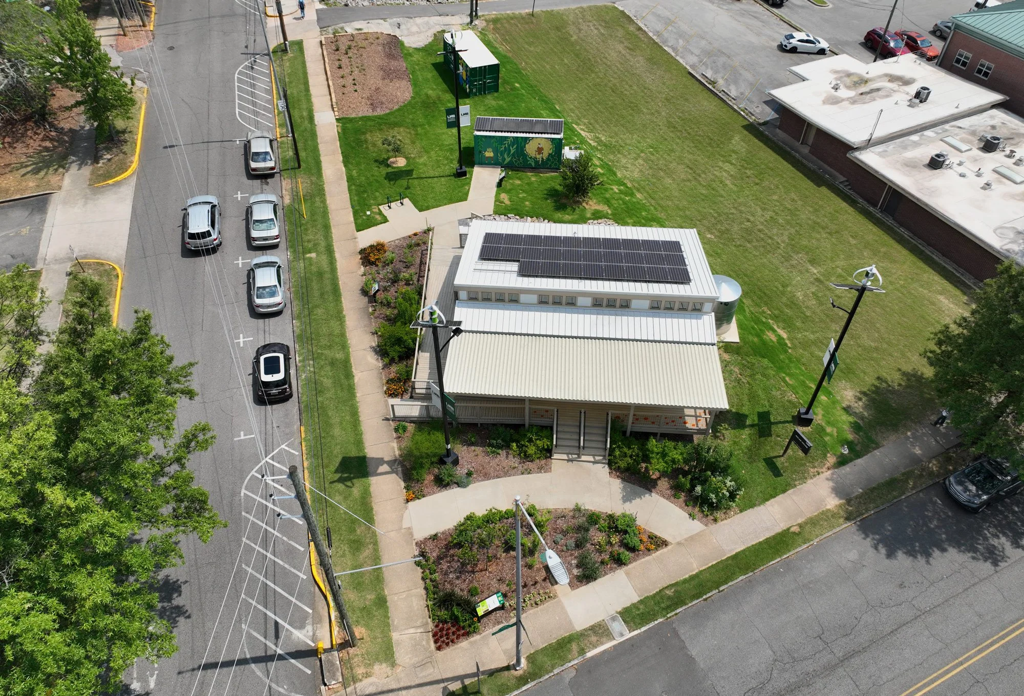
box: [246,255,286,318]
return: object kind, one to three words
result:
car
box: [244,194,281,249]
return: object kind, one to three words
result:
car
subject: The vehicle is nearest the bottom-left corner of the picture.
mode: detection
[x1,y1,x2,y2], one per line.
[250,344,293,407]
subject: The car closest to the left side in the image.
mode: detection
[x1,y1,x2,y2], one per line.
[185,200,223,256]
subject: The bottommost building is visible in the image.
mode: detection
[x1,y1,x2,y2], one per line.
[387,219,727,466]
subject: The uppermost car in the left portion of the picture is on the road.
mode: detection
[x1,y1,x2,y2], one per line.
[246,132,279,178]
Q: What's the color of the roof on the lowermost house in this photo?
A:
white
